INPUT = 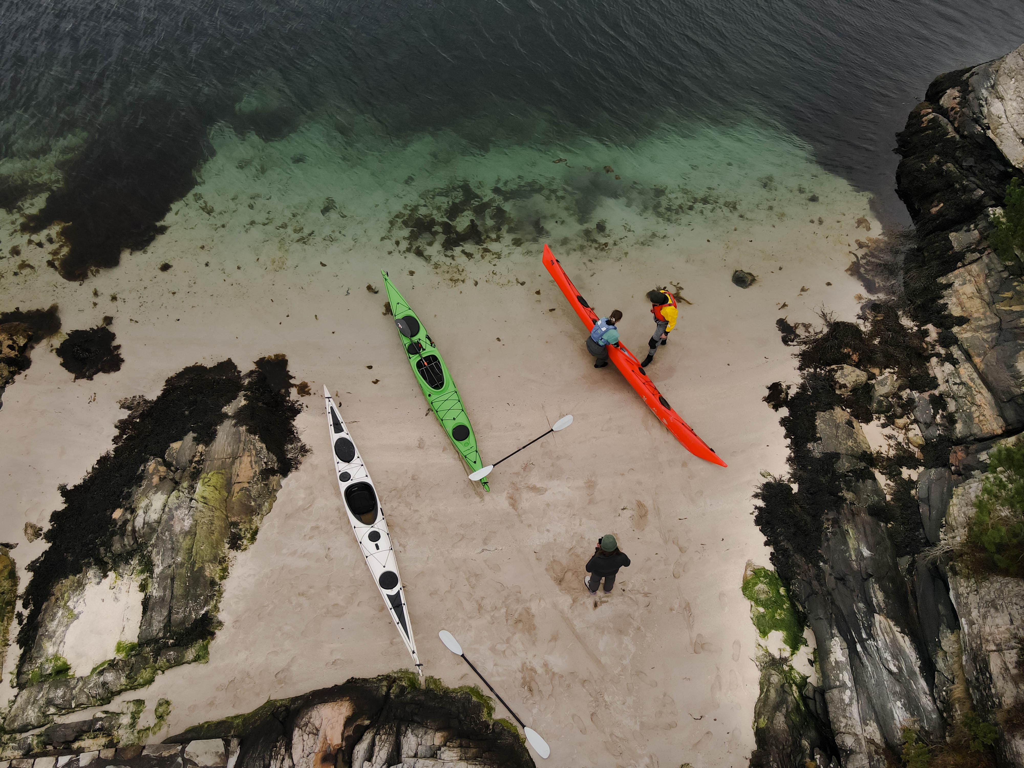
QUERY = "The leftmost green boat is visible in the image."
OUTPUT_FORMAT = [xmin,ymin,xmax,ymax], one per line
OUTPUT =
[382,273,487,490]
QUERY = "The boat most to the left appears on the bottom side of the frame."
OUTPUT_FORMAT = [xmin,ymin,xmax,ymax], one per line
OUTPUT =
[325,387,421,673]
